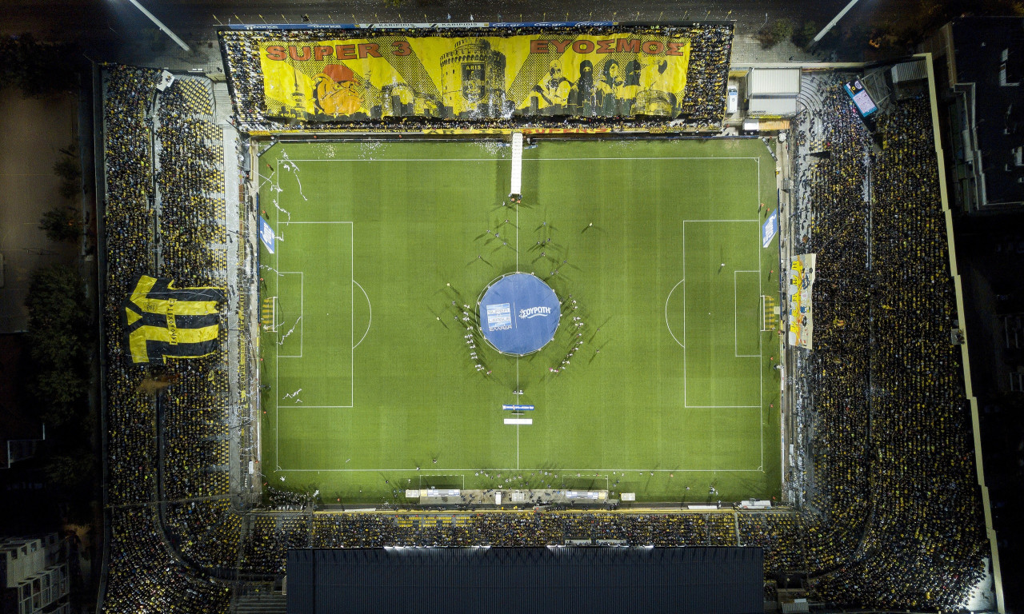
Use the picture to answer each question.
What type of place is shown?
sports ground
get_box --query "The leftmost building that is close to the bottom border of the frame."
[0,506,90,614]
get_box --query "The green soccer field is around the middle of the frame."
[256,136,778,500]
